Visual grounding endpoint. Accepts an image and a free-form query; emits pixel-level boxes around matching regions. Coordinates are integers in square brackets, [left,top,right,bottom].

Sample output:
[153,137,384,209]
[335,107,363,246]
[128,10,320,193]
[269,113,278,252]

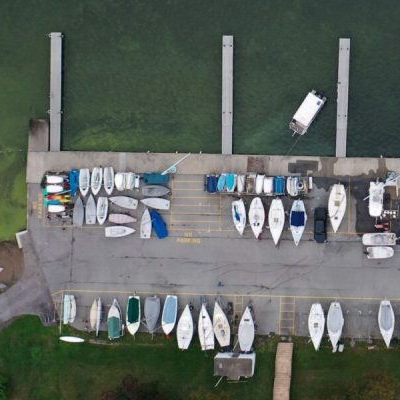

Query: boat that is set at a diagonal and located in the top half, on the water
[290,89,328,143]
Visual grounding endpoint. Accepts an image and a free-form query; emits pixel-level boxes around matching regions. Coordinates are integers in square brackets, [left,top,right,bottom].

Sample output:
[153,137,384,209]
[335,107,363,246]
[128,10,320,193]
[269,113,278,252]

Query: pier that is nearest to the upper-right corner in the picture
[336,38,350,156]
